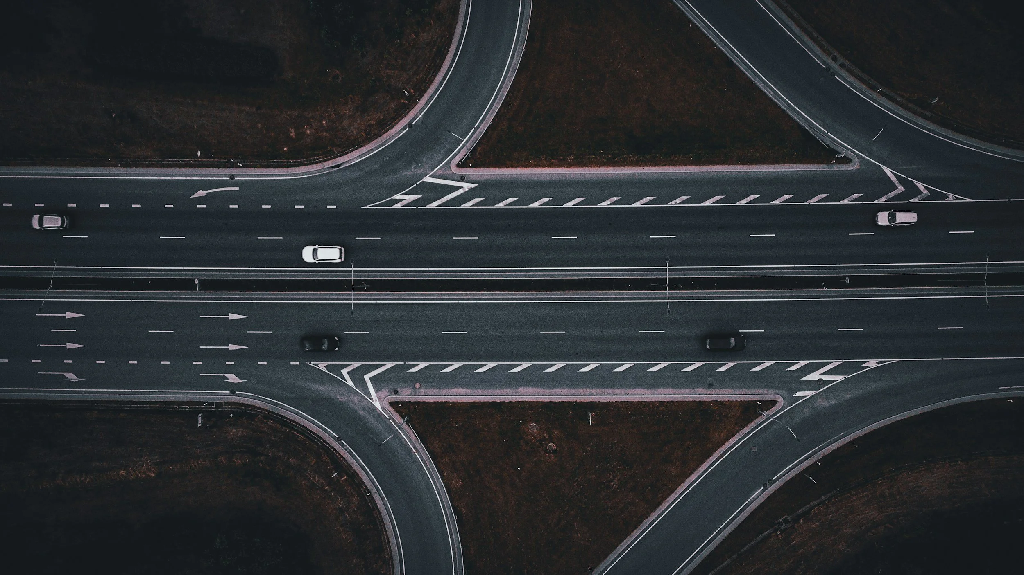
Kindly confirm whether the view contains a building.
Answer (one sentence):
No, I can't see a single building in this photo.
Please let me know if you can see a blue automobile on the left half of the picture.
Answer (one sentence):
No, the scene shows no blue automobile on the left half of the picture.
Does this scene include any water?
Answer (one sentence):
No, there is no water in the image.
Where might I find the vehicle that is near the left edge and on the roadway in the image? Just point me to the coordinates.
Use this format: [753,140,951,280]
[32,212,72,231]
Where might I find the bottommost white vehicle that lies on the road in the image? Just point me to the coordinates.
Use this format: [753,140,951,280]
[302,244,345,264]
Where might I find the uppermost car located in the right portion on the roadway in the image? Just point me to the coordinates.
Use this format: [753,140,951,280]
[874,208,918,227]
